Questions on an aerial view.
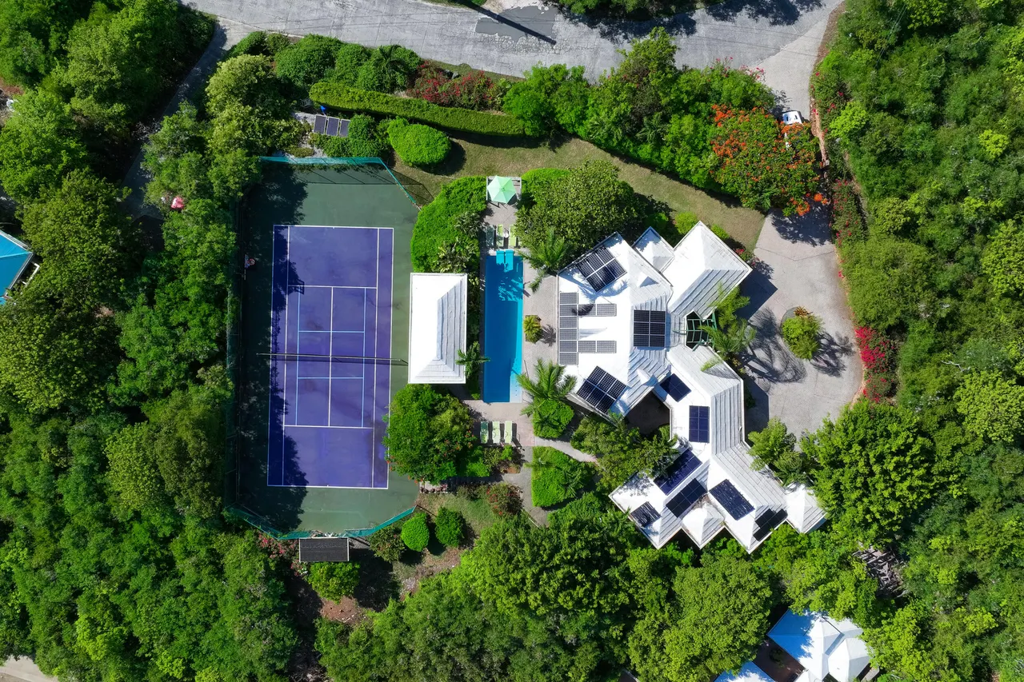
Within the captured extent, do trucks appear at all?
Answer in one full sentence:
No, I can't see a single truck in this photo.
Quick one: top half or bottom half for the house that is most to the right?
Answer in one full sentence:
The house that is most to the right is in the bottom half of the image.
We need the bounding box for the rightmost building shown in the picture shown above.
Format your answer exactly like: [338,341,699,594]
[761,602,871,682]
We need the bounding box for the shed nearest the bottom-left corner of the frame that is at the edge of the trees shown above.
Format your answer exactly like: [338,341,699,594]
[298,532,354,563]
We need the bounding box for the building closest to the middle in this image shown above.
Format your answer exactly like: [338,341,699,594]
[407,272,469,385]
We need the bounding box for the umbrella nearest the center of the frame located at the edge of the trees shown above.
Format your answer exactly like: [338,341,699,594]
[489,171,517,201]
